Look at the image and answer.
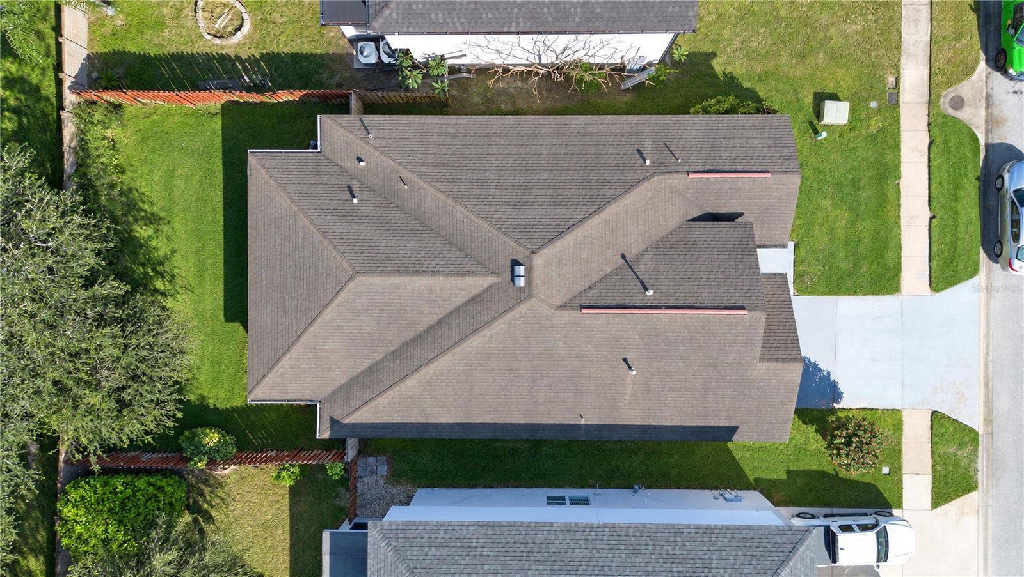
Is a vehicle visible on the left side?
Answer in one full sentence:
No, on the left side there is no vehicle.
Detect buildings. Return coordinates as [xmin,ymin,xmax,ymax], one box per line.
[246,112,802,442]
[320,481,819,577]
[318,0,699,64]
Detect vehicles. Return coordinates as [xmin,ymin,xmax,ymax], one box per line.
[783,511,913,573]
[993,0,1024,82]
[993,159,1024,274]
